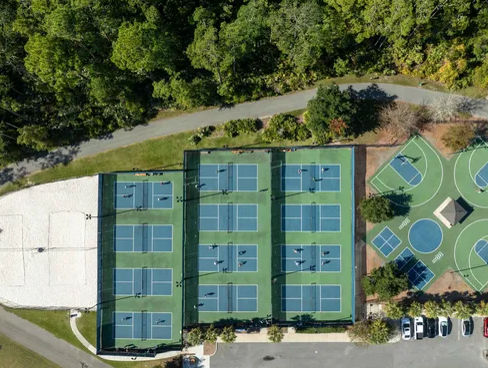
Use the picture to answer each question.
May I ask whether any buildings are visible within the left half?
No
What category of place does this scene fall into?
sports ground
